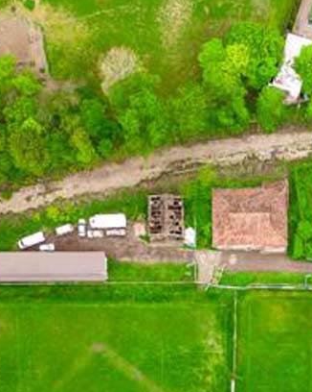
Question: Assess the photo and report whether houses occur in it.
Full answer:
Yes, looking at the shot, I can spot a house.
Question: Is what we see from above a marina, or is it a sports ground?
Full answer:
This image shows a sports ground.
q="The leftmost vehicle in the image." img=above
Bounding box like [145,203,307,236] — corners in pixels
[21,231,45,249]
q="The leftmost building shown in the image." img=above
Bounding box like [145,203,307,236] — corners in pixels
[146,193,186,246]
